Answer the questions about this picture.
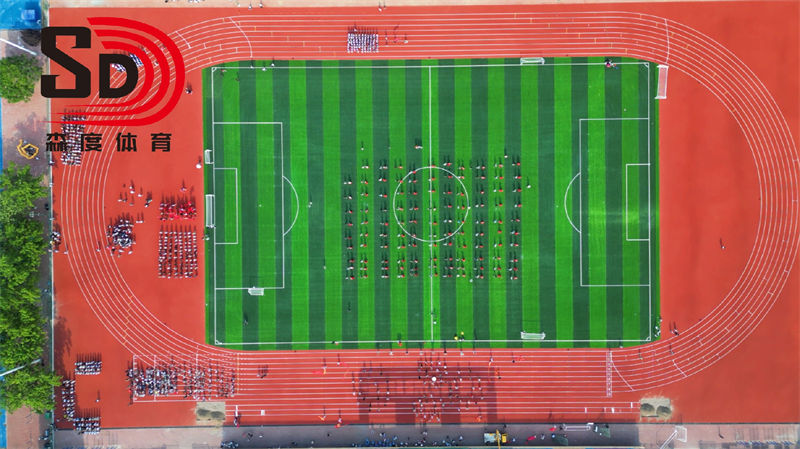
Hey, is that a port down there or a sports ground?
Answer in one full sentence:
This image shows a sports ground.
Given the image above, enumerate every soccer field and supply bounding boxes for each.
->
[202,56,661,351]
